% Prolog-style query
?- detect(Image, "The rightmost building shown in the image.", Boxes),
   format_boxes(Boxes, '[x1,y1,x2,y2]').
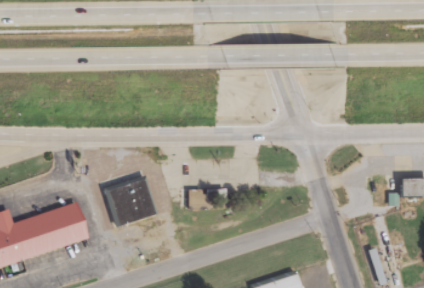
[398,178,424,196]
